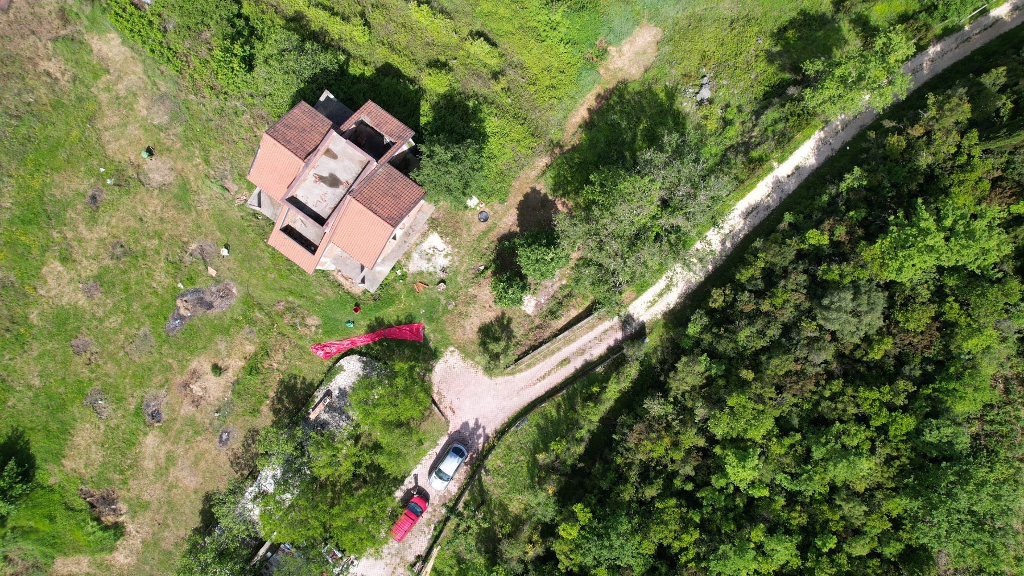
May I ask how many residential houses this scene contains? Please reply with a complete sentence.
In total, 1 residential house can be seen.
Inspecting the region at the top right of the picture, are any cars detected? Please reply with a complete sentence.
No, no car appears at the top right of the picture.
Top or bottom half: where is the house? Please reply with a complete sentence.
You can find the house in the top half.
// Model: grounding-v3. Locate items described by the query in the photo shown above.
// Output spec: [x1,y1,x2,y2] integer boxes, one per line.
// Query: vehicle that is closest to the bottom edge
[386,488,431,546]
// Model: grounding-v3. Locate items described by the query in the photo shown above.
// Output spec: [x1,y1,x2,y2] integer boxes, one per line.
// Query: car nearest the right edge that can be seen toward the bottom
[430,438,471,493]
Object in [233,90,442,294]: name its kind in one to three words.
house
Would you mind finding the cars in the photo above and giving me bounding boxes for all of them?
[430,438,471,493]
[386,488,431,546]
